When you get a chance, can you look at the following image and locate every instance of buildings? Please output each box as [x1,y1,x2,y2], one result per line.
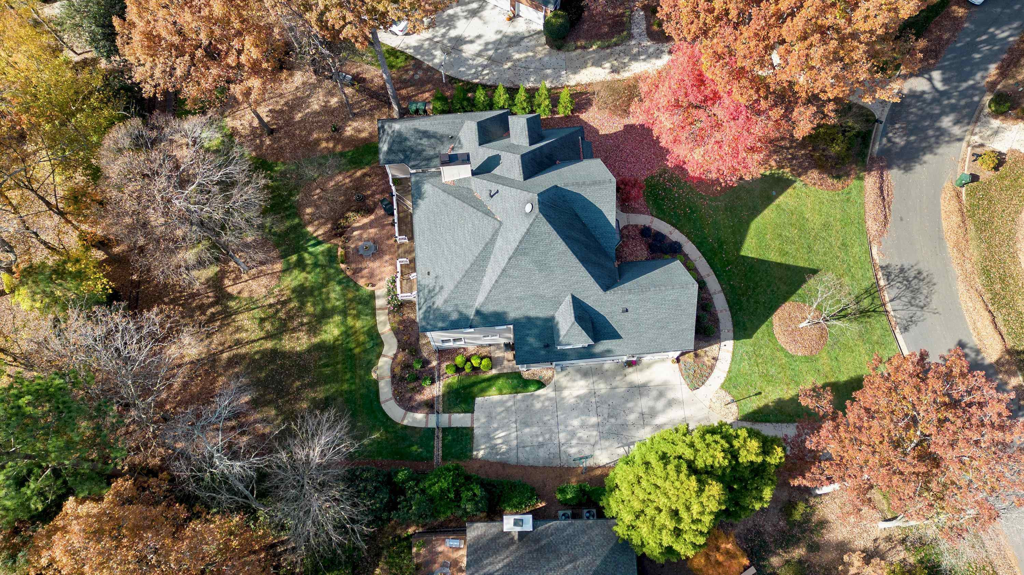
[490,0,563,24]
[378,109,699,377]
[463,515,640,575]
